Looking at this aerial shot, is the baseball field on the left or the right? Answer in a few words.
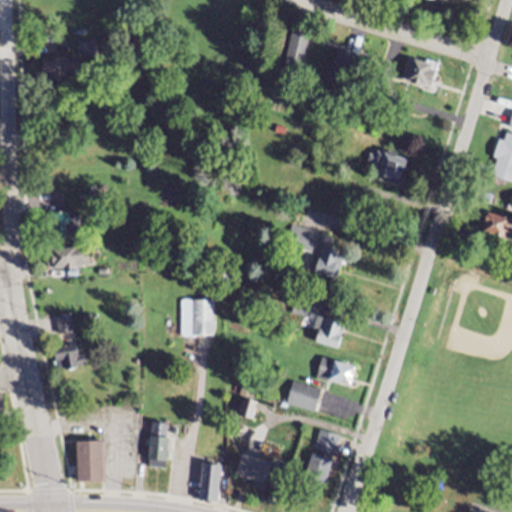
right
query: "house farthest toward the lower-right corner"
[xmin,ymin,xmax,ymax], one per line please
[310,430,337,483]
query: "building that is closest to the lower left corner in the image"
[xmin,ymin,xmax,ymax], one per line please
[76,442,102,482]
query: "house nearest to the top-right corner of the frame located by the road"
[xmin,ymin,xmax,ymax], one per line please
[413,56,444,91]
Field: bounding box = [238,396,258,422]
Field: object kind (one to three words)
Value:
building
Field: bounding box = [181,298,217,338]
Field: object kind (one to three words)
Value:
building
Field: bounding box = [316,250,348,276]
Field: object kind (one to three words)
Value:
house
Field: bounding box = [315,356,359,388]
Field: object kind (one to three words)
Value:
house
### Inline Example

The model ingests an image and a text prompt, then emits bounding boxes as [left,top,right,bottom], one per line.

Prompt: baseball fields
[428,270,512,444]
